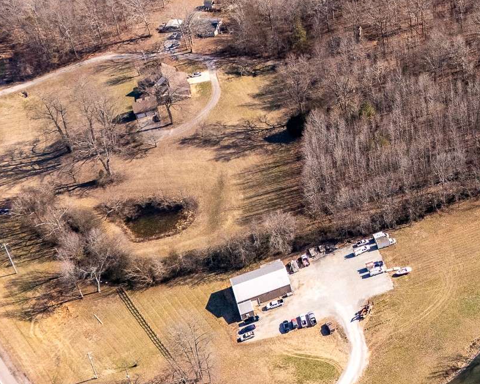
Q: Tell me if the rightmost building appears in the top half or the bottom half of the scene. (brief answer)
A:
bottom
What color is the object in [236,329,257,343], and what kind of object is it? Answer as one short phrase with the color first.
white vehicle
